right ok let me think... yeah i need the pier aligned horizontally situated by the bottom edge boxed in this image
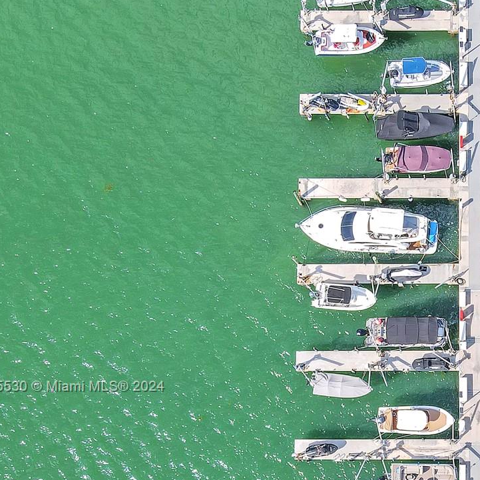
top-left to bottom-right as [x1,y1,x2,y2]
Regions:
[295,438,459,461]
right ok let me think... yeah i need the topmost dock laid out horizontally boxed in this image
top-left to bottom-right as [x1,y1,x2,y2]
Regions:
[301,10,459,37]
